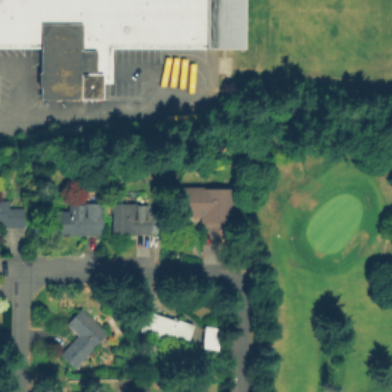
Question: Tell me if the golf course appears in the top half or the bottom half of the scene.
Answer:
bottom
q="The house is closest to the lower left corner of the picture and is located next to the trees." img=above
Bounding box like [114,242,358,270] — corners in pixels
[64,308,108,368]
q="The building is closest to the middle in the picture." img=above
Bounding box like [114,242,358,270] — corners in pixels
[186,188,233,230]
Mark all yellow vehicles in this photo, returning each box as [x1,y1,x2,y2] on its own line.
[188,63,198,96]
[170,57,180,90]
[180,58,189,91]
[161,56,172,89]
